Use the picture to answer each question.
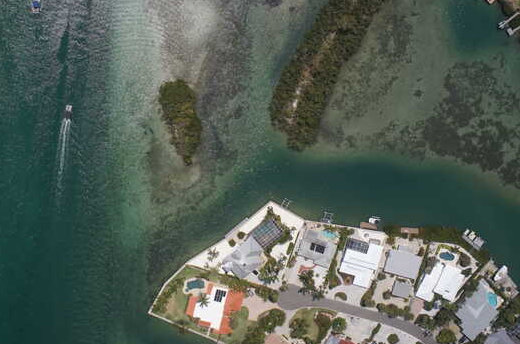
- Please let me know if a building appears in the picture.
Yes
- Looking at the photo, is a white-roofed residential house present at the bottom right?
Yes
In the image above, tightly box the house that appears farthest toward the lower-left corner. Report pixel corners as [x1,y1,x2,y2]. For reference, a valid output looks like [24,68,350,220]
[186,282,243,334]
